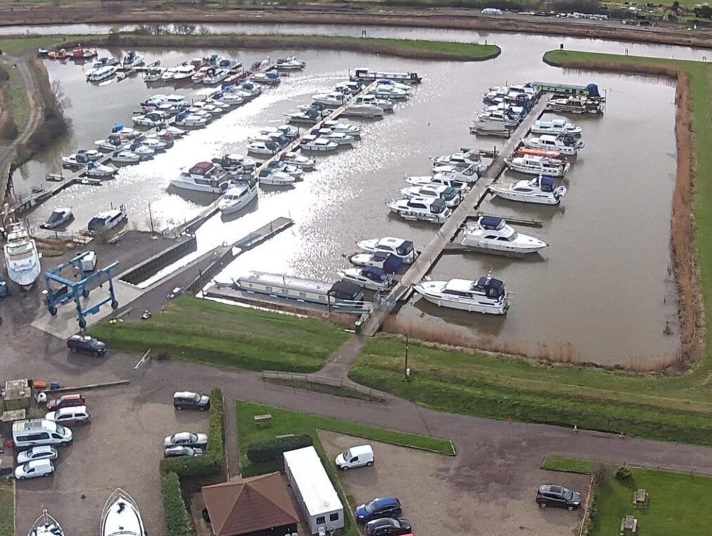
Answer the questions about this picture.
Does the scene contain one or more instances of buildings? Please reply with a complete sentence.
Yes, the frame does contain a building.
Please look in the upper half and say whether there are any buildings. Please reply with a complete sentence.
No, no building is visible in the upper half.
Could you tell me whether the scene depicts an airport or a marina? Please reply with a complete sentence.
What you see here is a marina.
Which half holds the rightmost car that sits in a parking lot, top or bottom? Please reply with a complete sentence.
The rightmost car that sits in a parking lot is in the bottom half of the image.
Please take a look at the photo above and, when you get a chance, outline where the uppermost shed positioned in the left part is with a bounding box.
[1,376,29,408]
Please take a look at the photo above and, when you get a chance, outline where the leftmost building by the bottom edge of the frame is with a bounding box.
[199,471,300,536]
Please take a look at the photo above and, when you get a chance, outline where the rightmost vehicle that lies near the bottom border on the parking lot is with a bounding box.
[535,485,584,514]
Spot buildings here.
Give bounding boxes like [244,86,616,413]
[282,445,344,536]
[1,376,29,408]
[199,471,300,536]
